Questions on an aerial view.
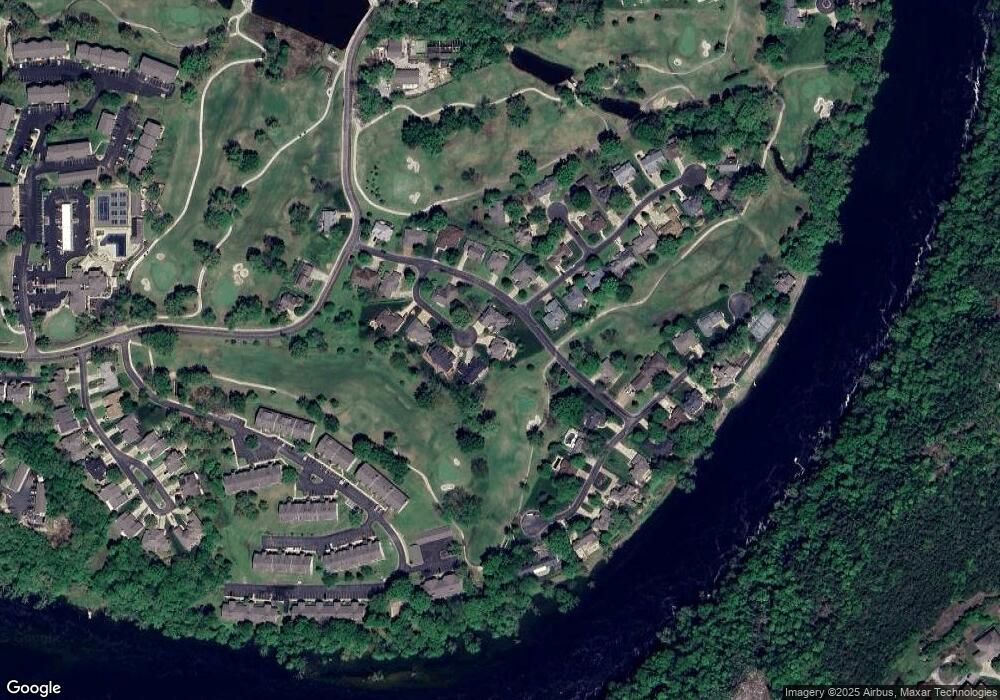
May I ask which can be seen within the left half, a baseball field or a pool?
pool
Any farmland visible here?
No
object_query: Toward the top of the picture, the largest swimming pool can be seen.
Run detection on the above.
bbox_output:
[97,231,130,259]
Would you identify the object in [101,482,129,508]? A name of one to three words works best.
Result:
house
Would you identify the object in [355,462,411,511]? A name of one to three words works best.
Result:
building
